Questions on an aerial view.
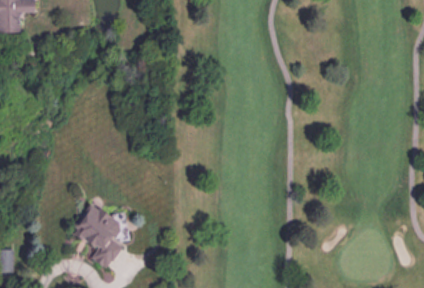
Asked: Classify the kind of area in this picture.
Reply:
golf course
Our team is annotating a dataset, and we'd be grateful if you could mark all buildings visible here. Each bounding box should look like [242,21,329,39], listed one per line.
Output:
[0,250,14,273]
[79,205,122,268]
[0,0,35,34]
